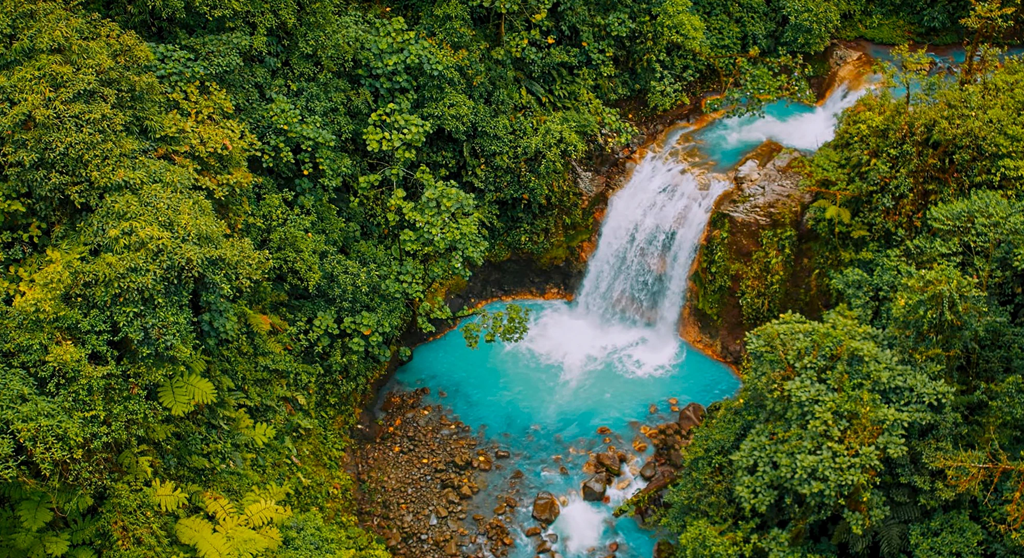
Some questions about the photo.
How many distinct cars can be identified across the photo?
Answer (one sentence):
I count no cars.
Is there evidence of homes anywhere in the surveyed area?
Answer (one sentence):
No, this view has no home in it.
